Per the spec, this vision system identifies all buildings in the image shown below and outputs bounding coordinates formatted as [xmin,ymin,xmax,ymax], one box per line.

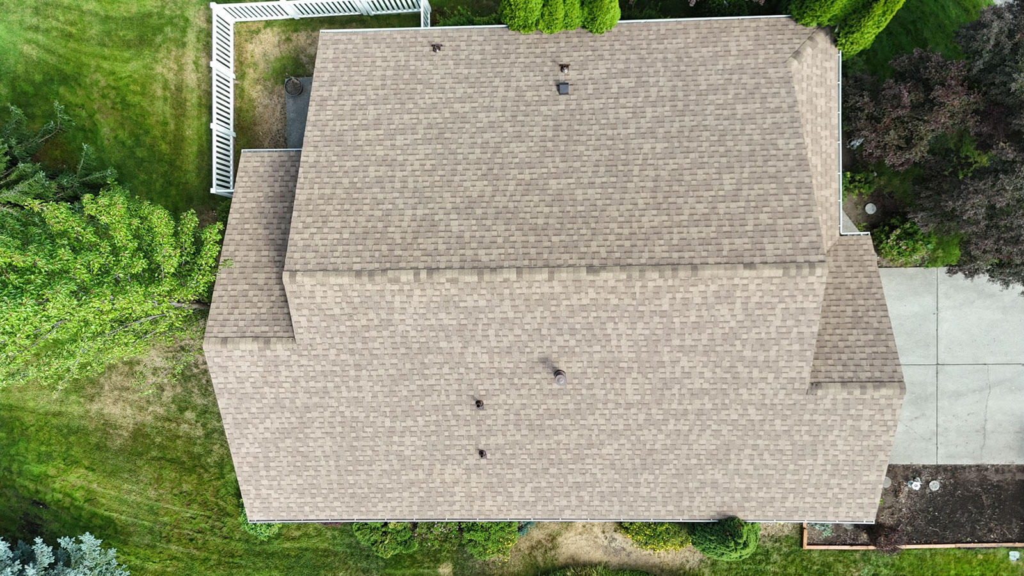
[208,14,905,526]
